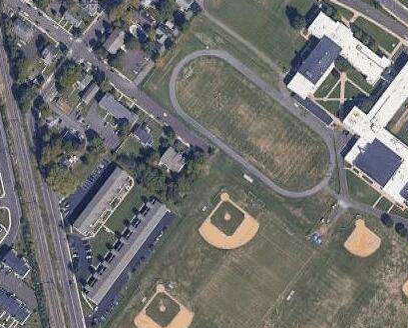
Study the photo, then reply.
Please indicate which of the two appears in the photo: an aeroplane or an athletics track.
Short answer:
athletics track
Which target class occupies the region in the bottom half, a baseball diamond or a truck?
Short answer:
baseball diamond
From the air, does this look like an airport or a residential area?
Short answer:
residential area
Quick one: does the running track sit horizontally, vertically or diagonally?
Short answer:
diagonally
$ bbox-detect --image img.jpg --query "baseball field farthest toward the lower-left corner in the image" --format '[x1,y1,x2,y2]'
[133,278,194,328]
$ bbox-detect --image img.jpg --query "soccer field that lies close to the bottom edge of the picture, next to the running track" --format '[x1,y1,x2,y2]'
[204,232,309,328]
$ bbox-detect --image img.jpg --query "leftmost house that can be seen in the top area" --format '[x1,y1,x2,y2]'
[12,20,34,43]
